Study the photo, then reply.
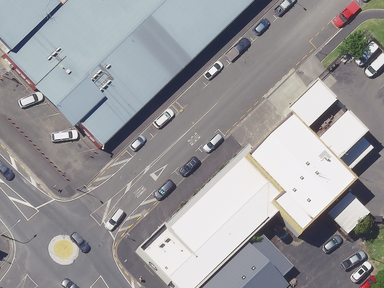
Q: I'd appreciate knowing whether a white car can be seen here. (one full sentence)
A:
Yes, a white car can be made out from above.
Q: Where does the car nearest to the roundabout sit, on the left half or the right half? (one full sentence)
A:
The car nearest to the roundabout sits on the left side.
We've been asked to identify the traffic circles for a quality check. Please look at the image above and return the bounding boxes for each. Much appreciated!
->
[48,233,79,264]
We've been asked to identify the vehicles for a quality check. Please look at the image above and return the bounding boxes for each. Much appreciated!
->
[154,178,176,200]
[202,130,224,152]
[322,232,344,253]
[104,208,126,230]
[178,155,200,177]
[355,42,378,64]
[70,230,91,253]
[272,0,296,16]
[364,54,384,76]
[358,274,374,288]
[152,107,174,128]
[350,261,372,282]
[271,222,293,244]
[334,2,360,26]
[0,158,15,180]
[128,133,148,152]
[225,38,250,62]
[62,278,80,288]
[51,130,77,142]
[340,250,366,270]
[18,92,43,108]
